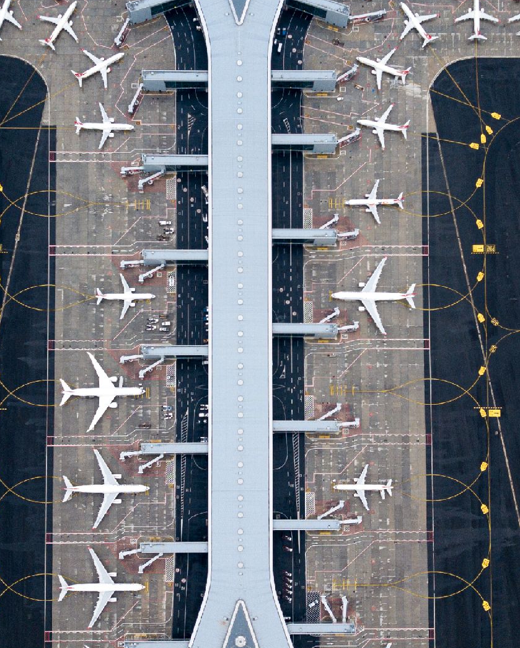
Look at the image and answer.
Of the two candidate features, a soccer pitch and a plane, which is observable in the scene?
plane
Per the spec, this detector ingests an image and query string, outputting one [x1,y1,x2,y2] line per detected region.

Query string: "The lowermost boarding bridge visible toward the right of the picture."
[286,592,354,634]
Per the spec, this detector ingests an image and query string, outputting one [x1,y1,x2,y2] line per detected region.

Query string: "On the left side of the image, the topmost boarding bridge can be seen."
[114,0,195,49]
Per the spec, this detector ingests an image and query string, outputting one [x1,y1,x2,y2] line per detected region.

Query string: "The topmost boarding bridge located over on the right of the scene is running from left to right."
[282,0,386,24]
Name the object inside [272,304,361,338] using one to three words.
jet bridge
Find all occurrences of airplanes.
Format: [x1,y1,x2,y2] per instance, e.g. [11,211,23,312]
[64,448,150,529]
[59,547,145,629]
[332,254,419,333]
[333,463,394,512]
[357,44,411,88]
[58,351,145,431]
[95,272,156,319]
[396,3,436,44]
[345,177,404,224]
[37,2,81,47]
[0,0,25,38]
[74,101,134,149]
[455,0,502,38]
[358,99,411,148]
[73,43,124,88]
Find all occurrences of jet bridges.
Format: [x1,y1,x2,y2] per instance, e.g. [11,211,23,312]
[120,155,208,192]
[272,401,363,433]
[120,346,208,382]
[114,0,195,49]
[272,500,364,531]
[124,640,190,648]
[282,0,386,24]
[127,70,208,114]
[120,443,208,480]
[286,592,354,634]
[271,126,361,151]
[120,250,208,286]
[271,61,360,89]
[271,209,360,244]
[272,304,361,338]
[120,542,208,579]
